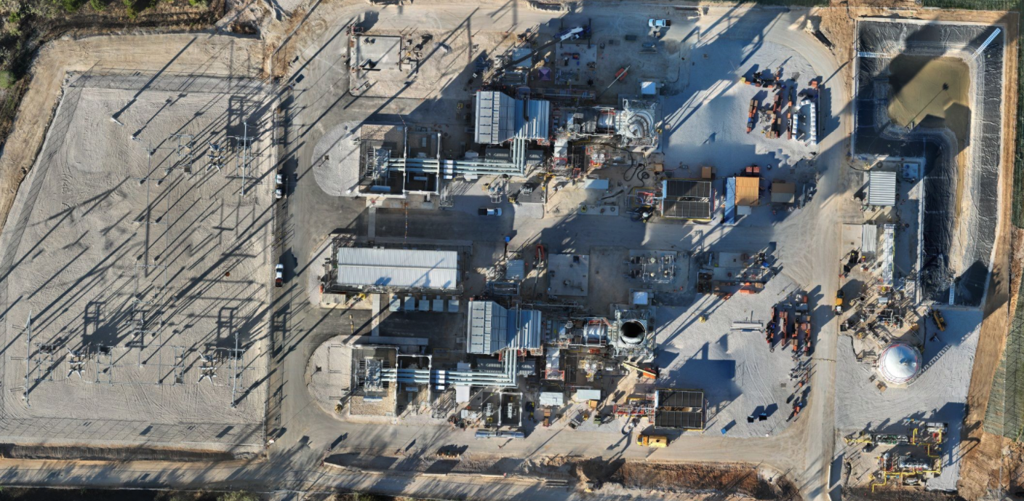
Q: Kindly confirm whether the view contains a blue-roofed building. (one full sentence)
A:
Yes, a blue-roofed building appears in the view.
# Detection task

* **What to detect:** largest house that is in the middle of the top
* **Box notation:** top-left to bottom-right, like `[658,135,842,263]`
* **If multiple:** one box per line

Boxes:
[475,91,549,146]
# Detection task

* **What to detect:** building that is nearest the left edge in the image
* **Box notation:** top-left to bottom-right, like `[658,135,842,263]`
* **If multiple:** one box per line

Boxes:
[337,245,459,290]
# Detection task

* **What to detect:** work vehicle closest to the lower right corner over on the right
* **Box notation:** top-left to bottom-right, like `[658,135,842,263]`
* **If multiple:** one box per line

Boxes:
[928,303,946,331]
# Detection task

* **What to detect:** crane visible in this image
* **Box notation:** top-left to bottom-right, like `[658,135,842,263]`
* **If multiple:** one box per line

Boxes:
[488,15,592,83]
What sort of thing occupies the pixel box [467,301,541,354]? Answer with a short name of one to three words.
house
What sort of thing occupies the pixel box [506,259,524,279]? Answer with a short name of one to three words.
building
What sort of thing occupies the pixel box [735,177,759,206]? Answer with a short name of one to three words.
building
